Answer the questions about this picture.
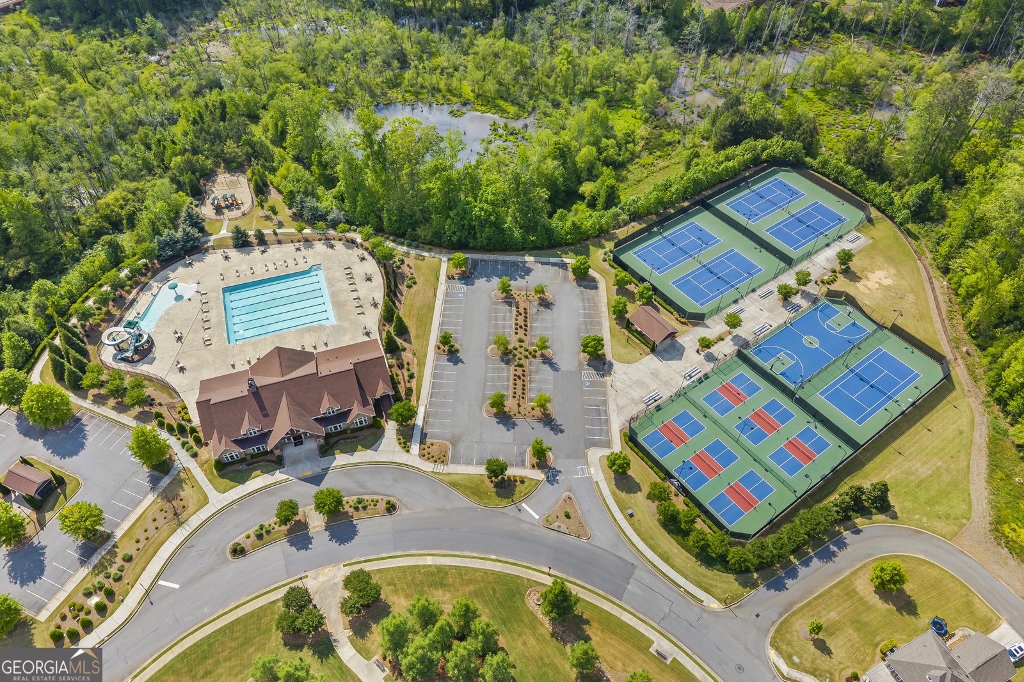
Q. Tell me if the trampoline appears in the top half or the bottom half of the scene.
bottom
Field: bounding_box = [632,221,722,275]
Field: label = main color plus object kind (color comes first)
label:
blue tennis court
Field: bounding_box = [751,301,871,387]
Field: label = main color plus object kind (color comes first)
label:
blue basketball court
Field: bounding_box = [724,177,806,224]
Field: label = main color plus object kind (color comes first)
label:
blue tennis court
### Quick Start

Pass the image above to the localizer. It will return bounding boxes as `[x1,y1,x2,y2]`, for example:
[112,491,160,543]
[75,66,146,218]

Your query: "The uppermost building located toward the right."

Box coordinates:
[629,306,679,351]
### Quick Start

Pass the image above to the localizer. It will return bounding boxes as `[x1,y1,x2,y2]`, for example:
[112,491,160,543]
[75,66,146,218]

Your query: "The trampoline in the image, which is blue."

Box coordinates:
[928,615,953,636]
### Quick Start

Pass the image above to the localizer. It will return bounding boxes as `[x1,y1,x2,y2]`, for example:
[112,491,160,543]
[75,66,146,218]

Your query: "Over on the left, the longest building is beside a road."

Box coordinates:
[196,339,395,462]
